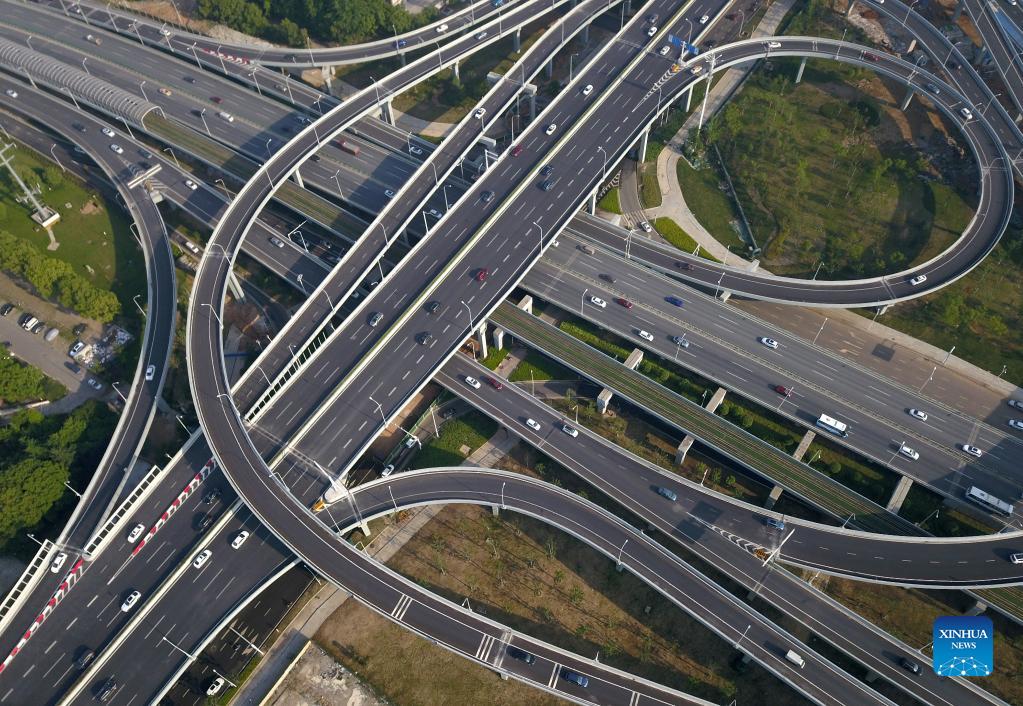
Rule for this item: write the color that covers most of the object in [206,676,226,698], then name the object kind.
white car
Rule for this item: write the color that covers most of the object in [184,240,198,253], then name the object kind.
white vehicle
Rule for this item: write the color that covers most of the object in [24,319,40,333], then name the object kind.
white vehicle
